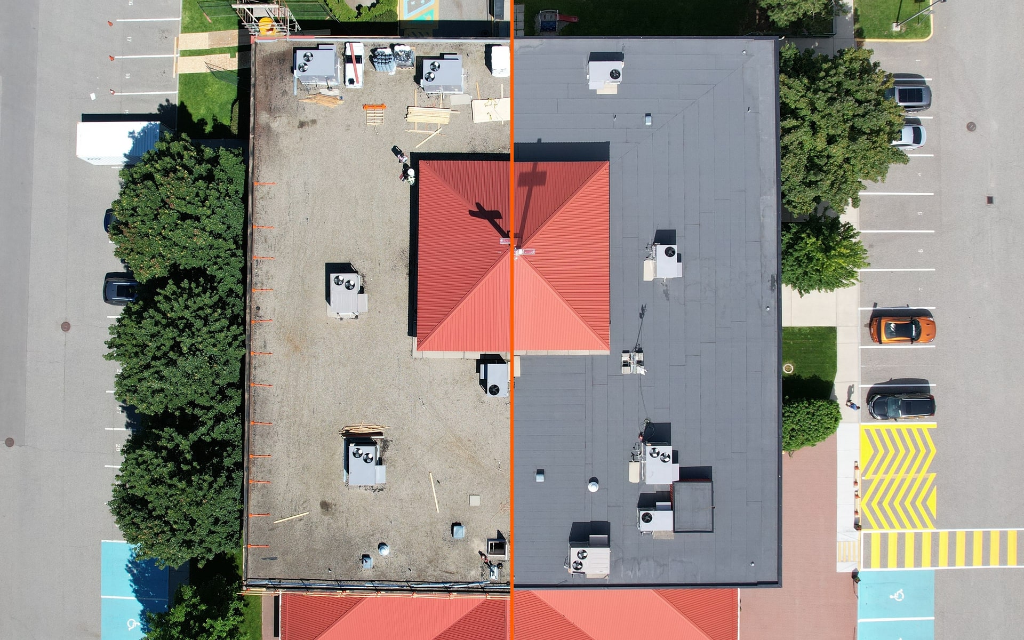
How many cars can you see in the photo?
6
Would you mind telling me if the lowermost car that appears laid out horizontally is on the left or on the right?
right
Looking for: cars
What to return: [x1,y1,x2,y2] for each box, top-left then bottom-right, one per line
[104,274,168,303]
[870,391,936,423]
[879,82,931,115]
[104,209,131,235]
[869,313,936,345]
[888,124,927,151]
